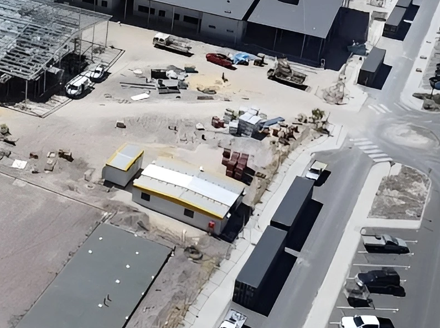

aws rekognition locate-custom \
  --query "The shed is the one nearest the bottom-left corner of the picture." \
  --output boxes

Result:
[106,144,143,185]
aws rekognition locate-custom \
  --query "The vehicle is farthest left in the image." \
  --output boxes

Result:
[67,73,92,94]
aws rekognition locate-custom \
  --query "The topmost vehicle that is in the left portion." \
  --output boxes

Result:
[155,30,193,55]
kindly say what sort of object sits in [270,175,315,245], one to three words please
shipping container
